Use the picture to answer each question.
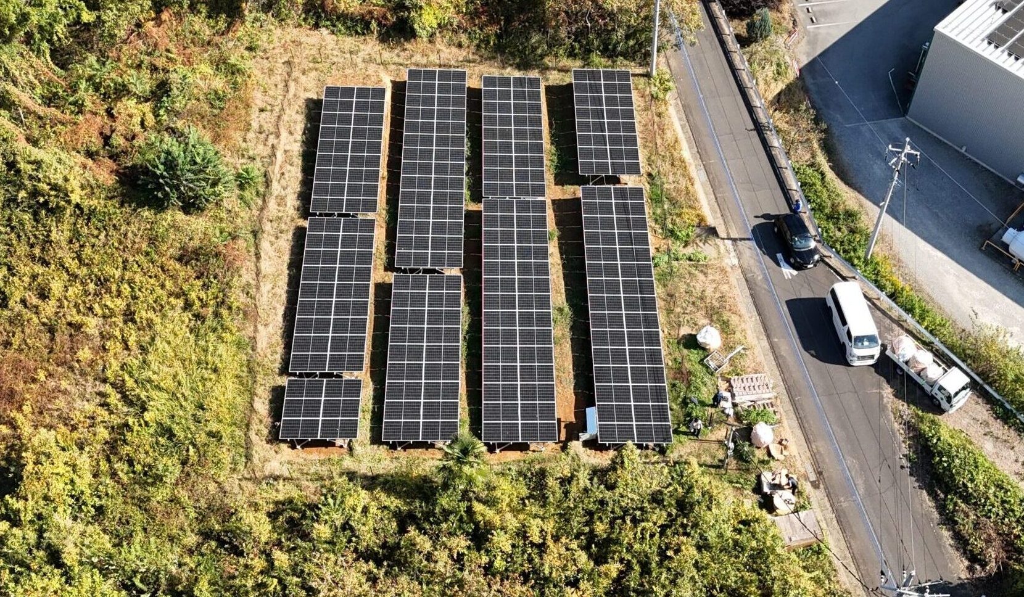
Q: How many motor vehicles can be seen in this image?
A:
three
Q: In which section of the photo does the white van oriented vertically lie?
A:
right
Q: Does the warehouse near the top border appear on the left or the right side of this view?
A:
right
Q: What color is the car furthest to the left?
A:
black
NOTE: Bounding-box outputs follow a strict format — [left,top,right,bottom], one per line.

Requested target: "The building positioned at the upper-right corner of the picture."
[904,0,1024,187]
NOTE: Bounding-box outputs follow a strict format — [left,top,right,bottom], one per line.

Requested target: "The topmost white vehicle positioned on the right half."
[826,276,882,366]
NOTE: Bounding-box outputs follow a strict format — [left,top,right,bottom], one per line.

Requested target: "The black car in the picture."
[771,213,820,275]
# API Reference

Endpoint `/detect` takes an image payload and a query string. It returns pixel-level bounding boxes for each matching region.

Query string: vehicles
[826,276,882,366]
[771,213,820,275]
[878,324,984,420]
